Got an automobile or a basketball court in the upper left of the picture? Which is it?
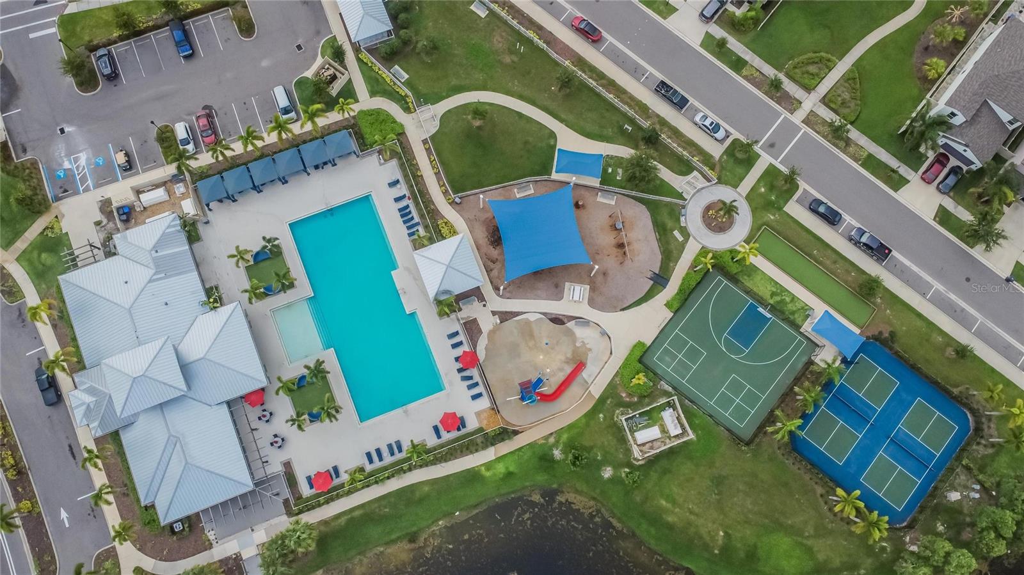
automobile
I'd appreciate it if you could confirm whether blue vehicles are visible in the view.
Yes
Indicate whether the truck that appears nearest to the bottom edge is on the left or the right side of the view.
left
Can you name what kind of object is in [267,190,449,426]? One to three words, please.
swimming pool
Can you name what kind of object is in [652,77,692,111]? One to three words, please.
truck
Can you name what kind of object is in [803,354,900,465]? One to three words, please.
sports court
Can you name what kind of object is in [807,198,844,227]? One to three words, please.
car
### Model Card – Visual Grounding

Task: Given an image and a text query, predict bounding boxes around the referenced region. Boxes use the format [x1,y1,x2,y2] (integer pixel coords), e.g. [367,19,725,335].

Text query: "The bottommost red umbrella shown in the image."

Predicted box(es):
[311,470,334,493]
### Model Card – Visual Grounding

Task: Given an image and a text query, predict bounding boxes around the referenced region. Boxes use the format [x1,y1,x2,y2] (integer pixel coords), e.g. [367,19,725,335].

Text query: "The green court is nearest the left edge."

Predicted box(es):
[641,267,812,444]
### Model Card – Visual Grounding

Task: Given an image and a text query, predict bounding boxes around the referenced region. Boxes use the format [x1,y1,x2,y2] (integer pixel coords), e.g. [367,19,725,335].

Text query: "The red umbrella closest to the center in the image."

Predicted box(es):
[458,349,480,370]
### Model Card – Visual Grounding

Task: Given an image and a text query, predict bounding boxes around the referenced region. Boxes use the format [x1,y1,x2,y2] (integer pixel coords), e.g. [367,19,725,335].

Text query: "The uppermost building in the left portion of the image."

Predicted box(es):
[338,0,396,50]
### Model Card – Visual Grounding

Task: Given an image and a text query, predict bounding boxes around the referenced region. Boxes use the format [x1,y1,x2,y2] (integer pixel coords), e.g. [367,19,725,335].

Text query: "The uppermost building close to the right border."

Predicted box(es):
[927,7,1024,168]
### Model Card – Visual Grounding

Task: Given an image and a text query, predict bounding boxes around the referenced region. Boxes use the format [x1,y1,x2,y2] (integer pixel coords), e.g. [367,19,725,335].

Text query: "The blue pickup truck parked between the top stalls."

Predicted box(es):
[167,17,193,59]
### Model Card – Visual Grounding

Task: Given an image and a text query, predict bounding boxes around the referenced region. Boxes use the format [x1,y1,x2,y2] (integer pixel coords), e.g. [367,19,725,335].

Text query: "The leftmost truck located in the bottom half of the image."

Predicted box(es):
[31,365,63,411]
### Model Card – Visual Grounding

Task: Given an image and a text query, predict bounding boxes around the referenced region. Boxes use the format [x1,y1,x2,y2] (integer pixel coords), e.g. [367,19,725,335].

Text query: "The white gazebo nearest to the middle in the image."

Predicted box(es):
[413,233,484,303]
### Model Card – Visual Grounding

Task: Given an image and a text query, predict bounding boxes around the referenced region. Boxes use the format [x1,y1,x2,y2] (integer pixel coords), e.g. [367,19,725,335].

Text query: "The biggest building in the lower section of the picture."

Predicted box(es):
[57,212,270,526]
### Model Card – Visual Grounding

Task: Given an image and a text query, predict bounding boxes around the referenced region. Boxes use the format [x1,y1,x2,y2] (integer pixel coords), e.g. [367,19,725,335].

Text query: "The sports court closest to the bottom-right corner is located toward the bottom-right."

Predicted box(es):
[861,398,958,511]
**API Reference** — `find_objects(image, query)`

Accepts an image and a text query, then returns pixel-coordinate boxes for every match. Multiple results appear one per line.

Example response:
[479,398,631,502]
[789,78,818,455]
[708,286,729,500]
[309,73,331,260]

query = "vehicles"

[807,198,844,227]
[31,365,63,411]
[920,151,952,183]
[113,153,132,176]
[652,77,692,111]
[167,17,193,59]
[935,164,967,195]
[848,226,895,263]
[569,15,604,43]
[94,47,119,82]
[196,109,220,147]
[174,120,197,155]
[698,0,726,23]
[271,83,299,122]
[693,111,727,141]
